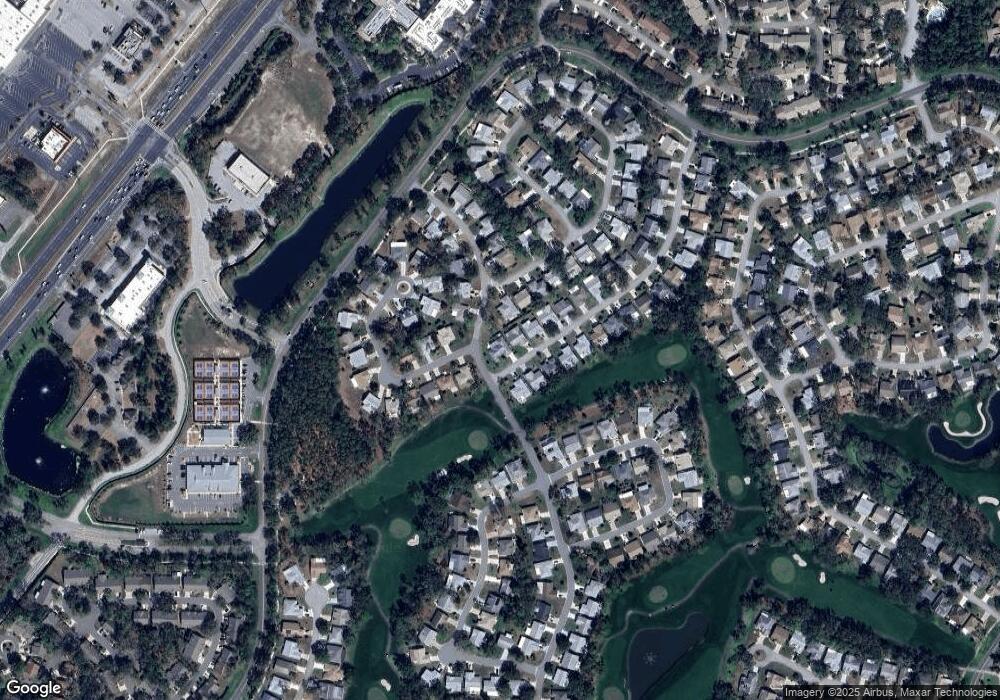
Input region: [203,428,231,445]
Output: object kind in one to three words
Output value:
building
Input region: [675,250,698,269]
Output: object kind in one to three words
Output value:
house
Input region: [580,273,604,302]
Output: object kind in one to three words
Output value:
house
